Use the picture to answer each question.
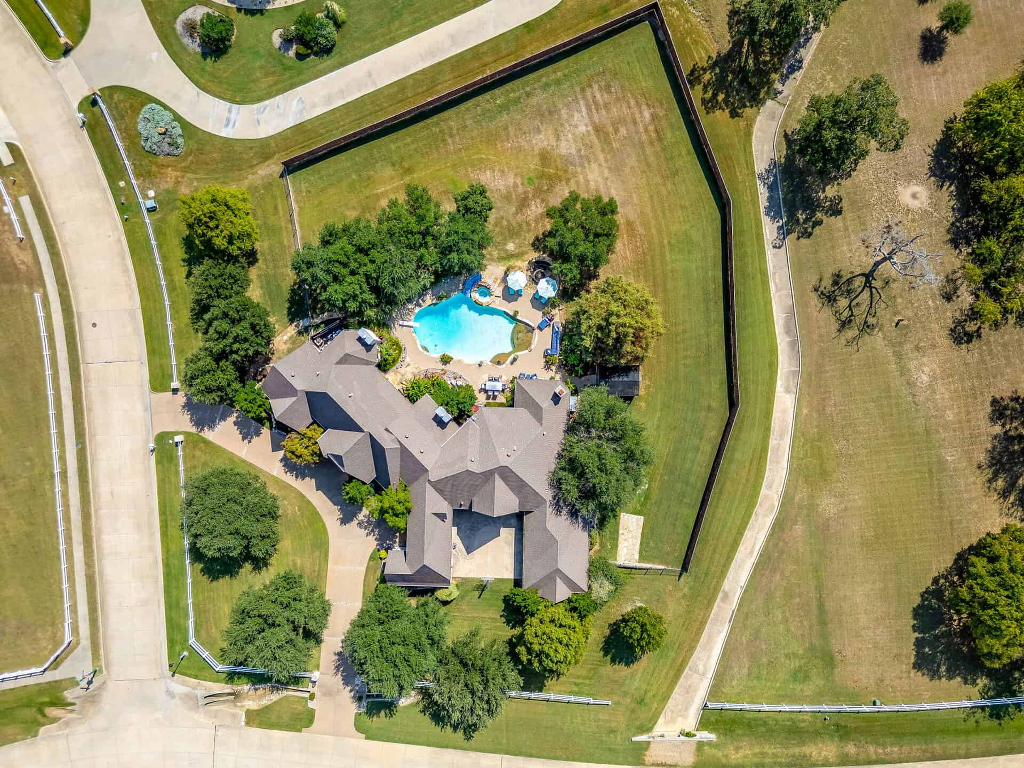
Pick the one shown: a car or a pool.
pool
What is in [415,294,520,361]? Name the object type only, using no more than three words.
swimming pool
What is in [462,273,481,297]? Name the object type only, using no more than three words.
swimming pool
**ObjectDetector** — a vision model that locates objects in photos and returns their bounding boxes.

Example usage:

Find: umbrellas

[538,278,557,298]
[507,270,527,291]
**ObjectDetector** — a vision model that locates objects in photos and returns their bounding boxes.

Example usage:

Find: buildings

[262,323,589,603]
[600,364,640,397]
